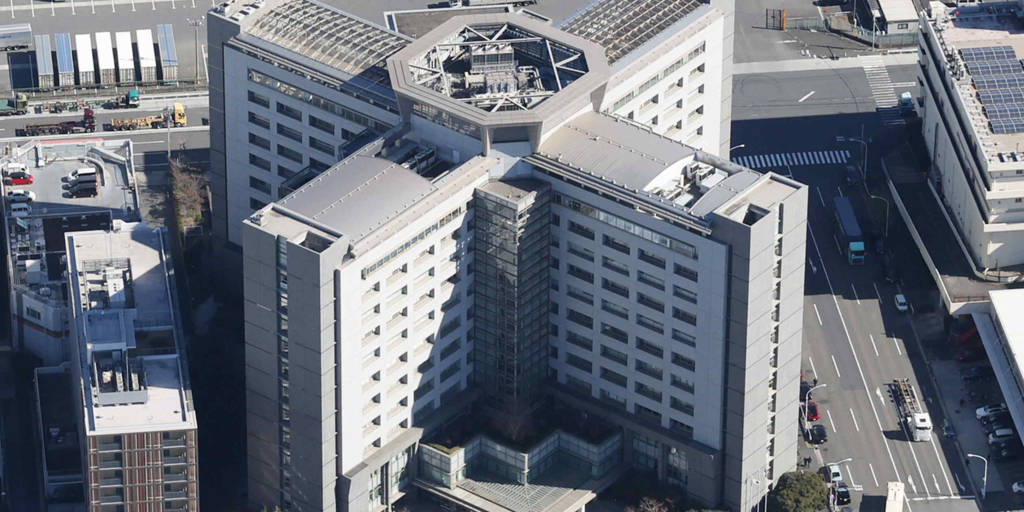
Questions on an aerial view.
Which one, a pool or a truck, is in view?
truck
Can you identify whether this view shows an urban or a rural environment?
urban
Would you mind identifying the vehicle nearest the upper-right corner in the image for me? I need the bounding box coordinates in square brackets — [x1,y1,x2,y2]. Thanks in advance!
[898,95,912,116]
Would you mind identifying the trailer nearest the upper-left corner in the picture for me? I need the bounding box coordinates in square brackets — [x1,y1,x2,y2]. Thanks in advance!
[0,22,31,49]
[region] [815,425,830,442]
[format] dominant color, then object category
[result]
black car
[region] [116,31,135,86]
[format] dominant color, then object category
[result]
white trailer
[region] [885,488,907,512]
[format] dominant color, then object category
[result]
white truck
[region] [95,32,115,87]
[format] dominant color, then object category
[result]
white trailer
